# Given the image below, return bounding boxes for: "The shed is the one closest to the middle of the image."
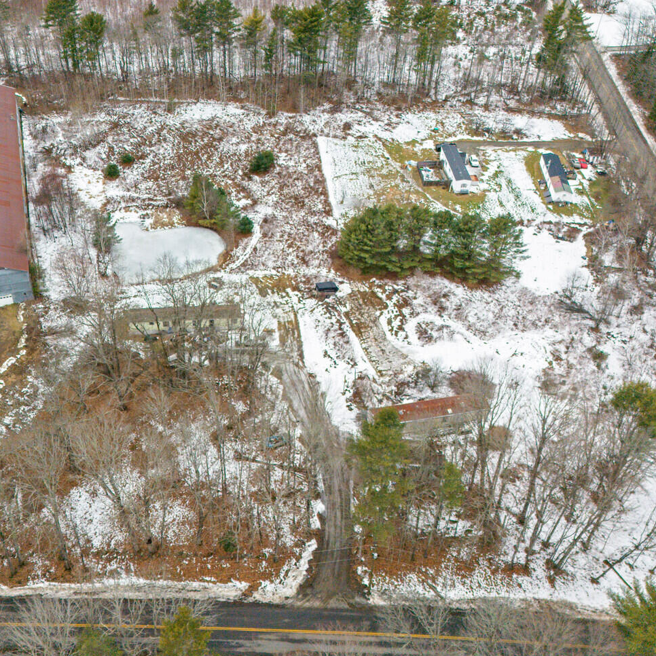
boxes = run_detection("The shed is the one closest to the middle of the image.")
[316,281,338,299]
